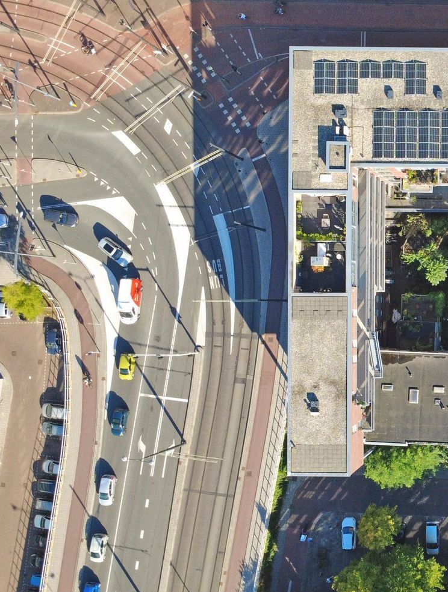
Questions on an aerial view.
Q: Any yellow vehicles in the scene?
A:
Yes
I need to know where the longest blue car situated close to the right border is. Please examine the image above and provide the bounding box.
[424,519,441,555]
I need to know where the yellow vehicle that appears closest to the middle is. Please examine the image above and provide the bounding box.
[120,352,137,381]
